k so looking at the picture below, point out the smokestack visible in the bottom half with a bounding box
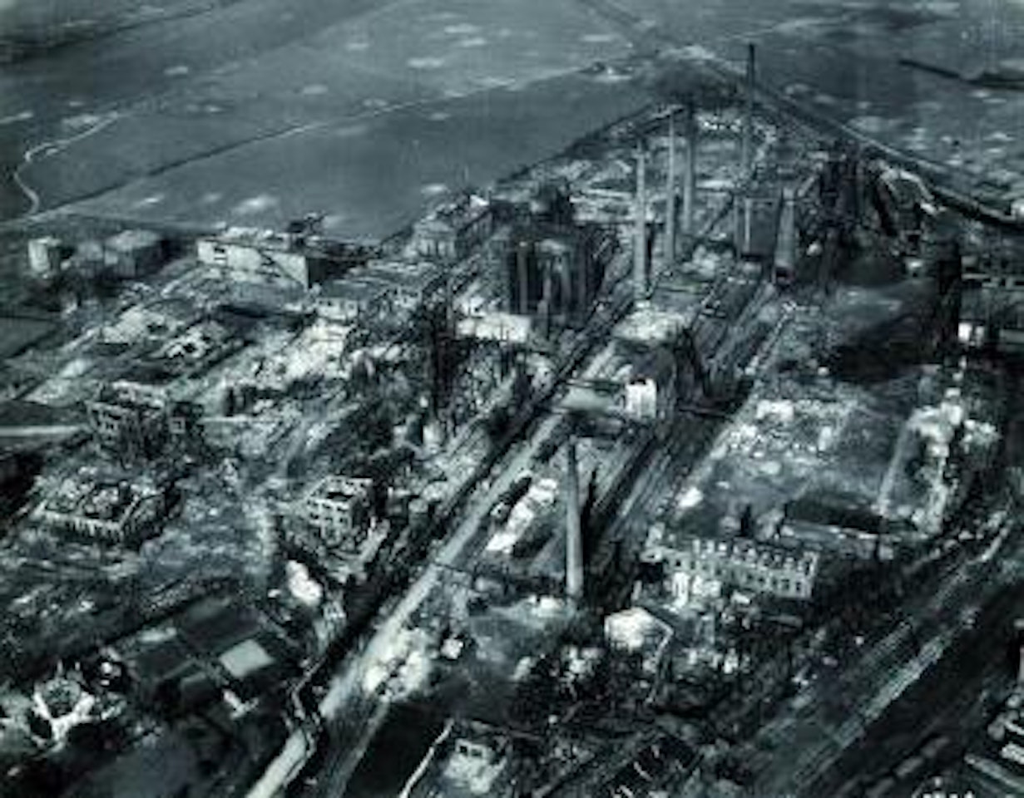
[562,437,590,614]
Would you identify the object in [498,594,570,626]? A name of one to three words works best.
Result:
building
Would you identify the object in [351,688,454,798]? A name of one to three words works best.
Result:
shed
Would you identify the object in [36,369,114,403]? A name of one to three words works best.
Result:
building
